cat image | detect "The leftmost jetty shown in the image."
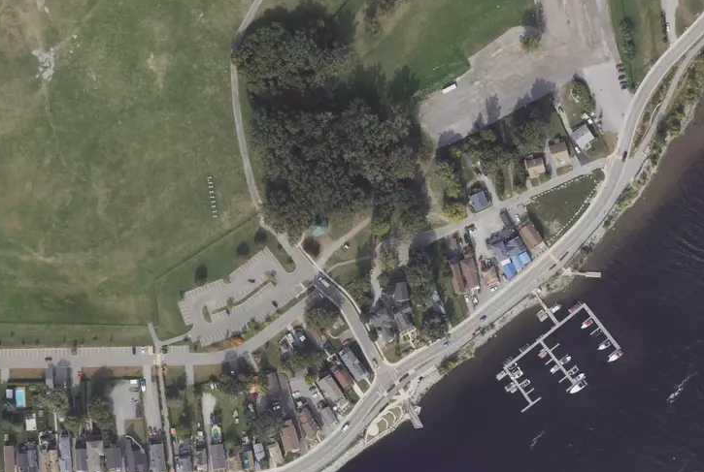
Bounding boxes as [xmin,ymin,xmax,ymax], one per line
[405,397,423,429]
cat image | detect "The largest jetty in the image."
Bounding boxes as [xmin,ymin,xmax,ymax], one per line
[502,301,621,413]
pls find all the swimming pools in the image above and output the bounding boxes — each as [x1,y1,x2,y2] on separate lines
[15,387,26,408]
[212,427,221,441]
